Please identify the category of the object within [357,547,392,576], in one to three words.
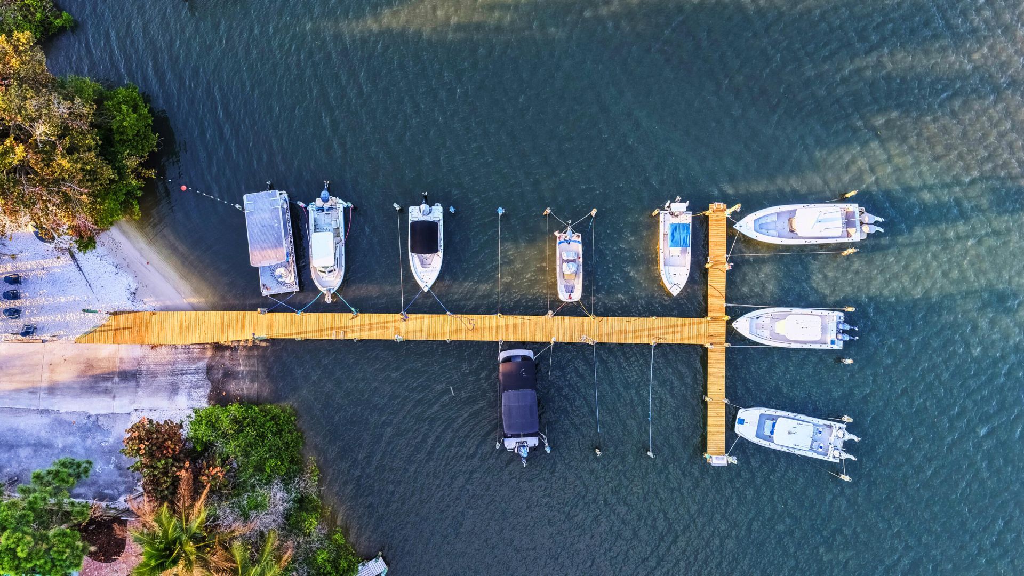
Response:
pier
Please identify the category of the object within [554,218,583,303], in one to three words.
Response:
boat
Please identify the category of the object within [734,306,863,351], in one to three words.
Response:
boat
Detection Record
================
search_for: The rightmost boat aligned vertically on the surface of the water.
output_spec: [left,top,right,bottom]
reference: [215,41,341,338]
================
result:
[658,193,692,296]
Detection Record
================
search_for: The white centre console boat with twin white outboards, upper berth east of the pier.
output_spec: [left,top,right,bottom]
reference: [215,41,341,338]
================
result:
[734,204,889,245]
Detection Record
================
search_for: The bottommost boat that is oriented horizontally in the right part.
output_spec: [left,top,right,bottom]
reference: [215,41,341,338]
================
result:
[735,407,865,463]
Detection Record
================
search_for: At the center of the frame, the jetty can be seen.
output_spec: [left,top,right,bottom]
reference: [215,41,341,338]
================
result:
[73,199,741,465]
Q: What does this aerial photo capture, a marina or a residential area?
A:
marina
